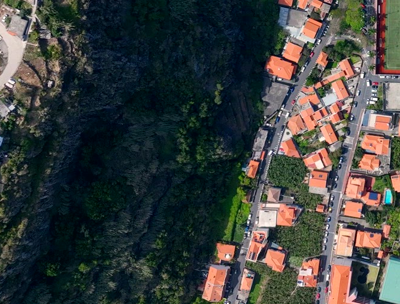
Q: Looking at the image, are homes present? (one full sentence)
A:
Yes, this view includes a home.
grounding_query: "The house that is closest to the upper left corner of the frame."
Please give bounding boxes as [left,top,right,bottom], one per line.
[7,16,37,39]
